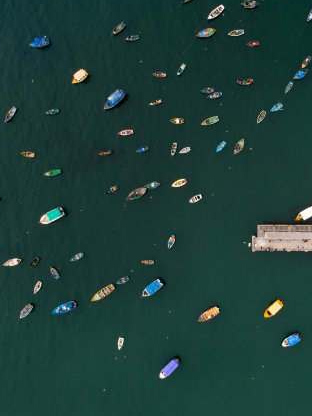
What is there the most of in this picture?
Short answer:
water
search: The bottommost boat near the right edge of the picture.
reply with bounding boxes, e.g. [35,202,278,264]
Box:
[282,334,302,348]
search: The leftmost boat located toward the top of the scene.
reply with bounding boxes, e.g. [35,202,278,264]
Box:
[3,105,18,122]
